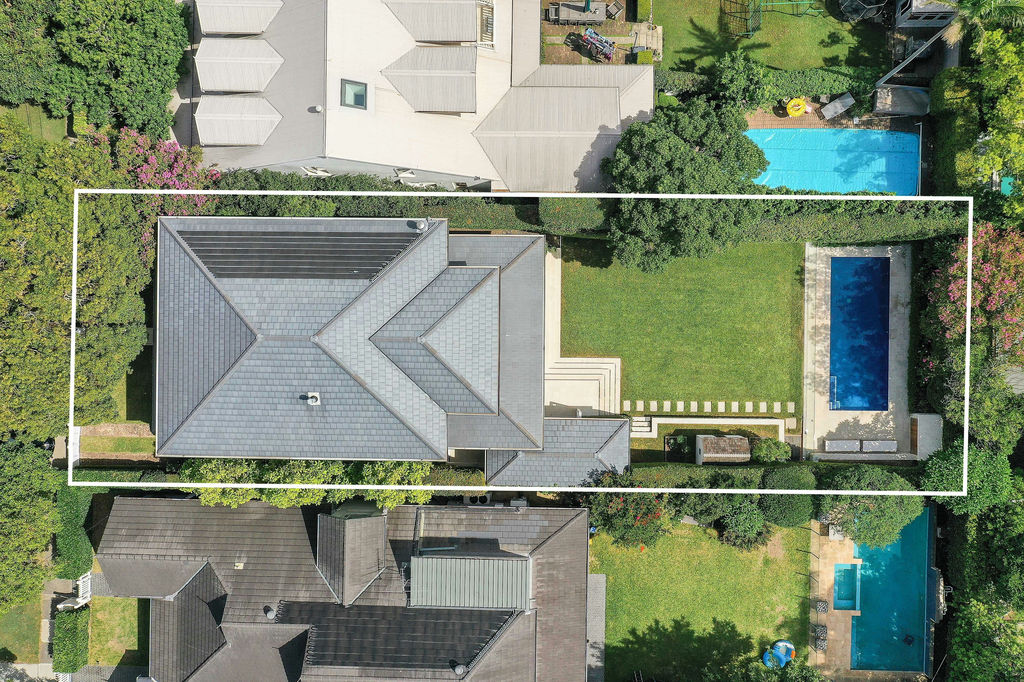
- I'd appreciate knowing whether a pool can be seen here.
Yes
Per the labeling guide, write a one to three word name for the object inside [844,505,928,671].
swimming pool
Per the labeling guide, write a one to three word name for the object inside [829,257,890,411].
swimming pool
